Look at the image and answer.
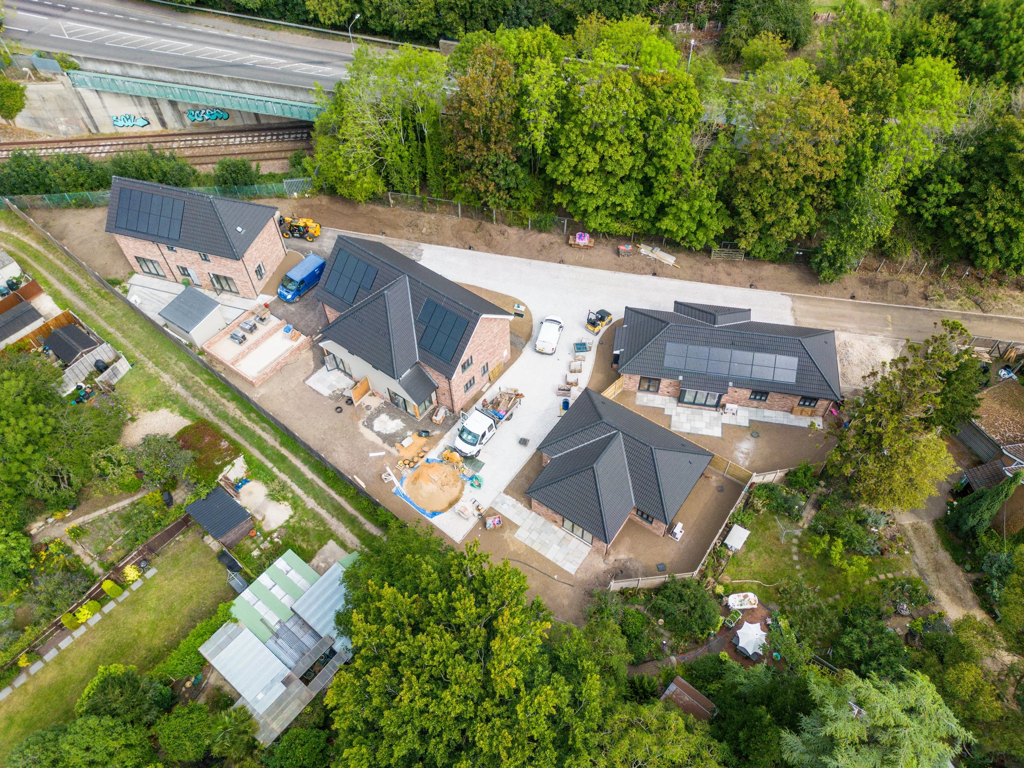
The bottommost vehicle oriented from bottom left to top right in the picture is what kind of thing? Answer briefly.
truck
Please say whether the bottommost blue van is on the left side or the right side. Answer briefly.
left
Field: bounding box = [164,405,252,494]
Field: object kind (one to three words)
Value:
shed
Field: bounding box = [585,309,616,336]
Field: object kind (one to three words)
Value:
work vehicle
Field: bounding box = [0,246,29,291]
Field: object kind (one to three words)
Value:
building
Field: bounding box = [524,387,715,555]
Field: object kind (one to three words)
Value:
house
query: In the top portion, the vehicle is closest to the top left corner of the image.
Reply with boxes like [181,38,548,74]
[279,214,322,241]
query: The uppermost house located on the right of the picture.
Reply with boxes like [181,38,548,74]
[612,299,844,417]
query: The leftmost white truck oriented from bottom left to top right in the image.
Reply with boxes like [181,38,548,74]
[448,375,523,457]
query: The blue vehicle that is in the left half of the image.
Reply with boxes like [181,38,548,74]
[278,251,326,297]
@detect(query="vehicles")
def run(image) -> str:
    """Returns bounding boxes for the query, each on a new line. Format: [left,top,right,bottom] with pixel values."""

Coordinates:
[534,317,562,357]
[278,251,326,297]
[585,309,616,336]
[279,214,322,241]
[448,375,523,457]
